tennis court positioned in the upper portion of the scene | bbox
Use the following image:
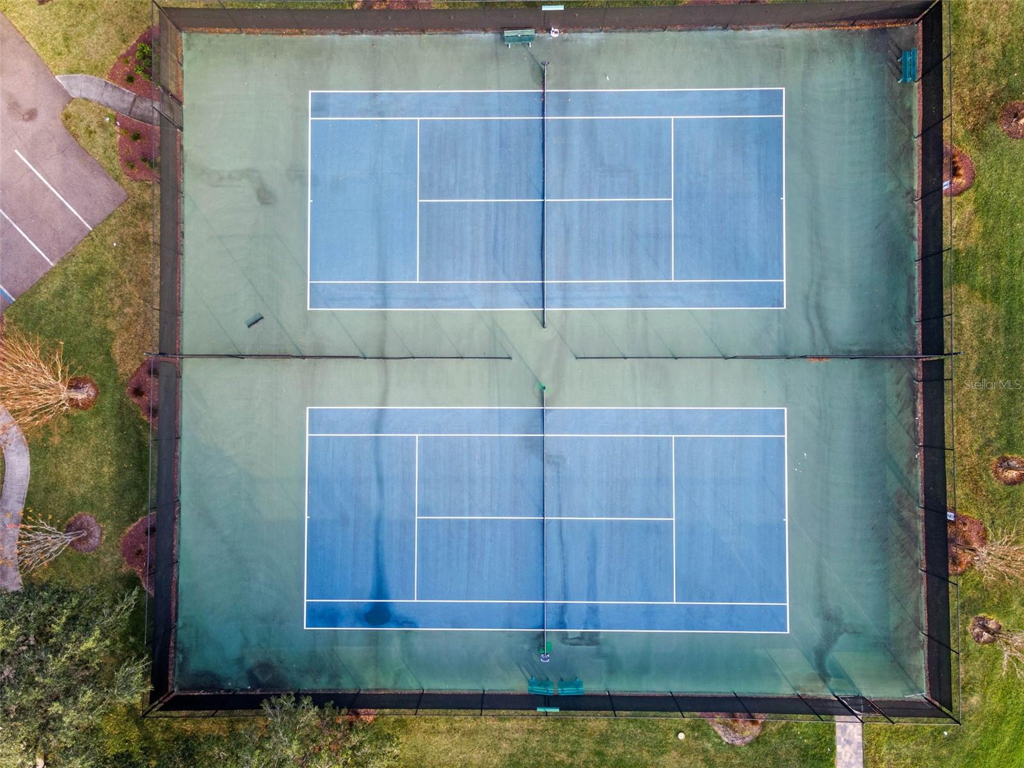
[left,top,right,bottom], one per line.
[308,89,786,309]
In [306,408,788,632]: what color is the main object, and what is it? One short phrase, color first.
blue tennis court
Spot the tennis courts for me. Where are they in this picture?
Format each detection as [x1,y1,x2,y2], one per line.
[306,408,788,632]
[308,89,786,309]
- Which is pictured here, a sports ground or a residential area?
sports ground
